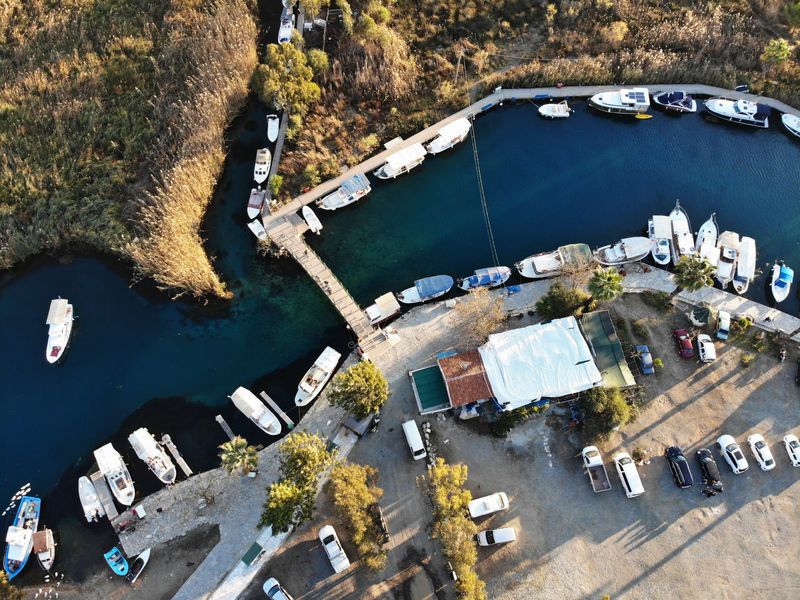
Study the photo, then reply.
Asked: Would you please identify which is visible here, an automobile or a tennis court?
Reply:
automobile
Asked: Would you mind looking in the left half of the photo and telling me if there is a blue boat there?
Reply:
Yes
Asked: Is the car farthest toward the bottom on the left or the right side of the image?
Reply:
left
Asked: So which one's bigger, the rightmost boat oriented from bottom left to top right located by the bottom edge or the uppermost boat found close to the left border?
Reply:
the uppermost boat found close to the left border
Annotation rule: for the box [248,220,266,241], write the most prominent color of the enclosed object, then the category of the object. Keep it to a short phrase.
white boat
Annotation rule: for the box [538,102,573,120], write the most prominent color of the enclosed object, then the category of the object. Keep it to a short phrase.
white boat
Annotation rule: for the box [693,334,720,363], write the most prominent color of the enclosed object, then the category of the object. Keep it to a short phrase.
white car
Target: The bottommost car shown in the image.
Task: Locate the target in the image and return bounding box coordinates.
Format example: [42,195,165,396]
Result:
[261,575,295,600]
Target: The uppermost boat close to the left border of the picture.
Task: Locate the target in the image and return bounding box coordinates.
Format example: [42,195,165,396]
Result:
[38,289,74,362]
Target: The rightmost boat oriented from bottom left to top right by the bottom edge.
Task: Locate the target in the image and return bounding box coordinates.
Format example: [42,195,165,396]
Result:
[127,548,152,583]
